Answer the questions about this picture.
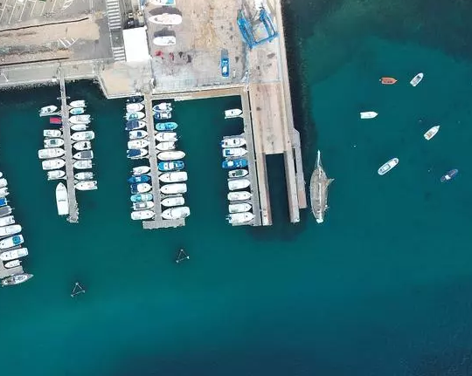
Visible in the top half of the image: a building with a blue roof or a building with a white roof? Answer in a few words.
building with a white roof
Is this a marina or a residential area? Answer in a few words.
marina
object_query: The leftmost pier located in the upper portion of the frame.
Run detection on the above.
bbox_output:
[40,76,79,221]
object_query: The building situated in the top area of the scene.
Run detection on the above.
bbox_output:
[123,28,148,65]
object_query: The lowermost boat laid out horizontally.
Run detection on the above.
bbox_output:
[0,274,33,287]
